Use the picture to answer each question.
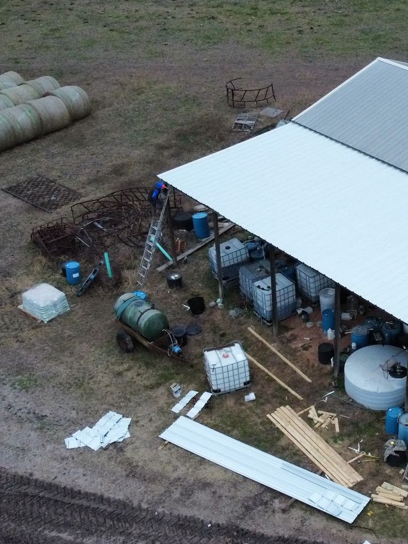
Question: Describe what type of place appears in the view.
industrial area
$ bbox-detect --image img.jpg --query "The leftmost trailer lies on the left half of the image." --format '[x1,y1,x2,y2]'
[108,318,194,364]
